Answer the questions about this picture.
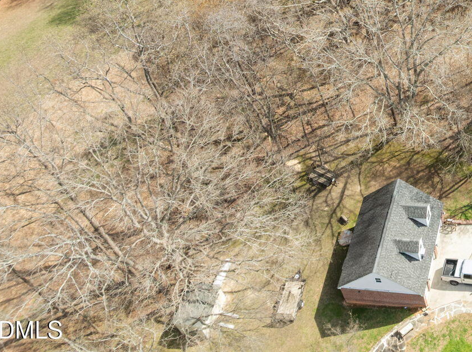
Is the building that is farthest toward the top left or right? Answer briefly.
right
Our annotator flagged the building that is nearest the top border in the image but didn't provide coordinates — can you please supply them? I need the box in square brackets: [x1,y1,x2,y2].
[337,179,445,307]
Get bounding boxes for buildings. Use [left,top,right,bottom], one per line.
[167,282,226,342]
[337,179,445,307]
